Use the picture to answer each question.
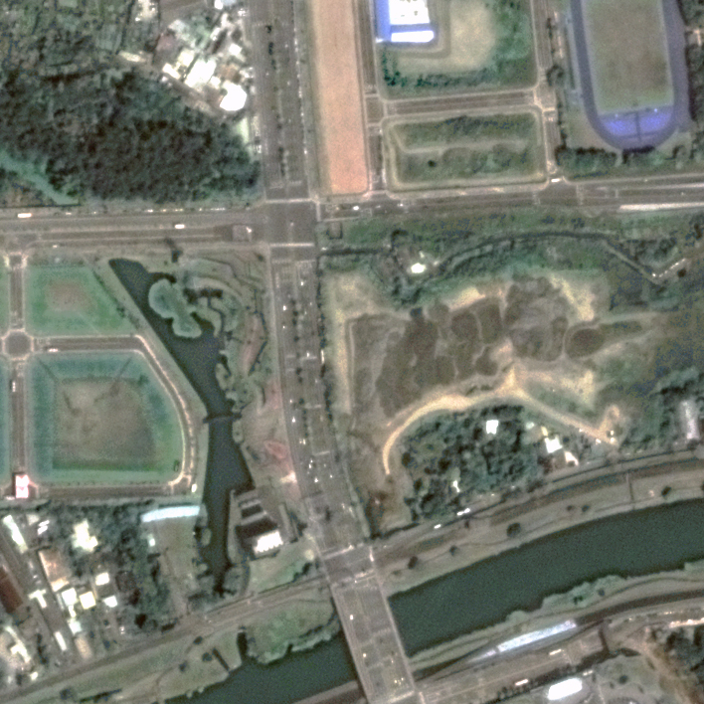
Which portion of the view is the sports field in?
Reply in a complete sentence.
The sports field sits in the top right section of the image.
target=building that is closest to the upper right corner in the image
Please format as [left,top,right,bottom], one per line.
[375,0,433,44]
